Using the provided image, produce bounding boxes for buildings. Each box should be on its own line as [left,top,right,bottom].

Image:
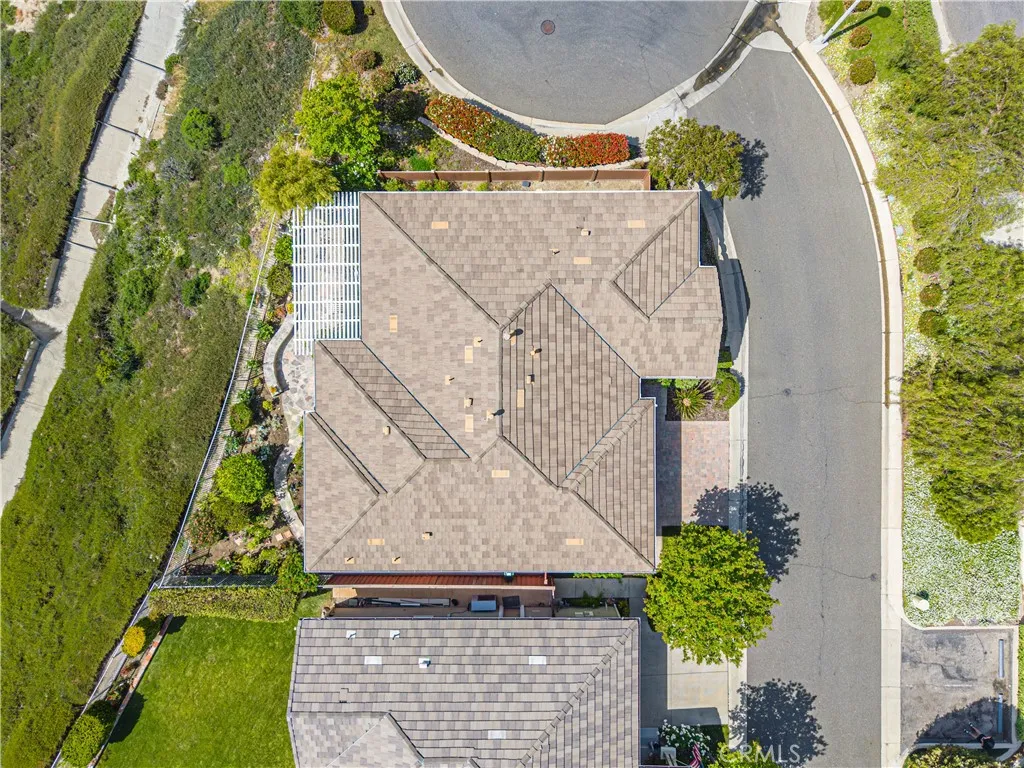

[286,603,702,768]
[303,191,722,574]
